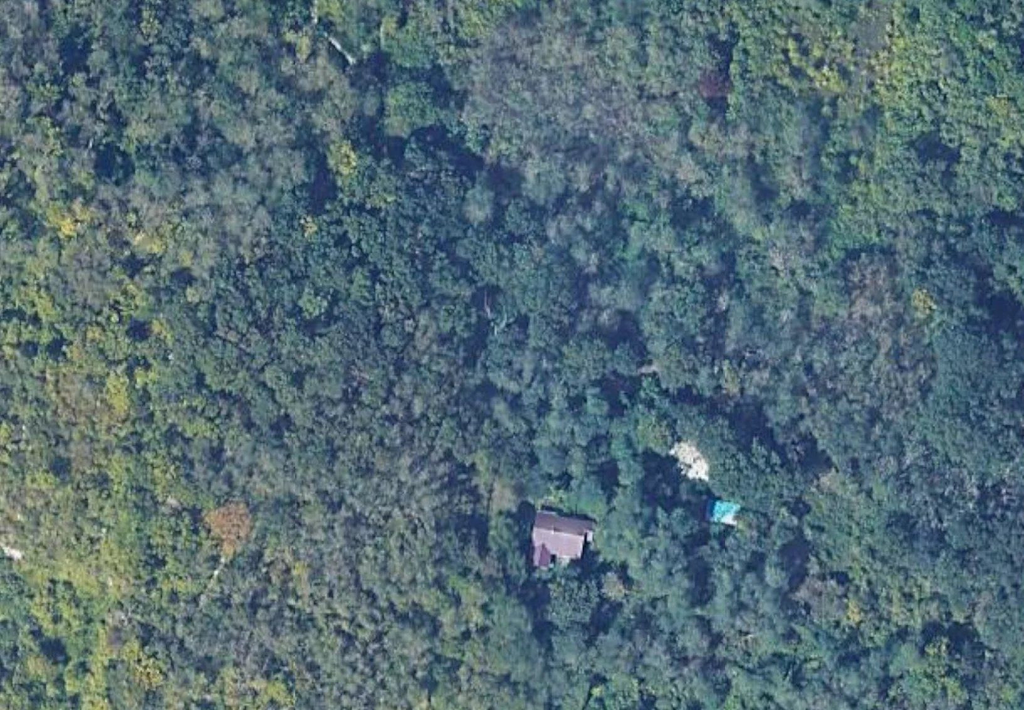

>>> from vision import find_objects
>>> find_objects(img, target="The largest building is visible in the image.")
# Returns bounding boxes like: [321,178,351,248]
[530,511,597,569]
